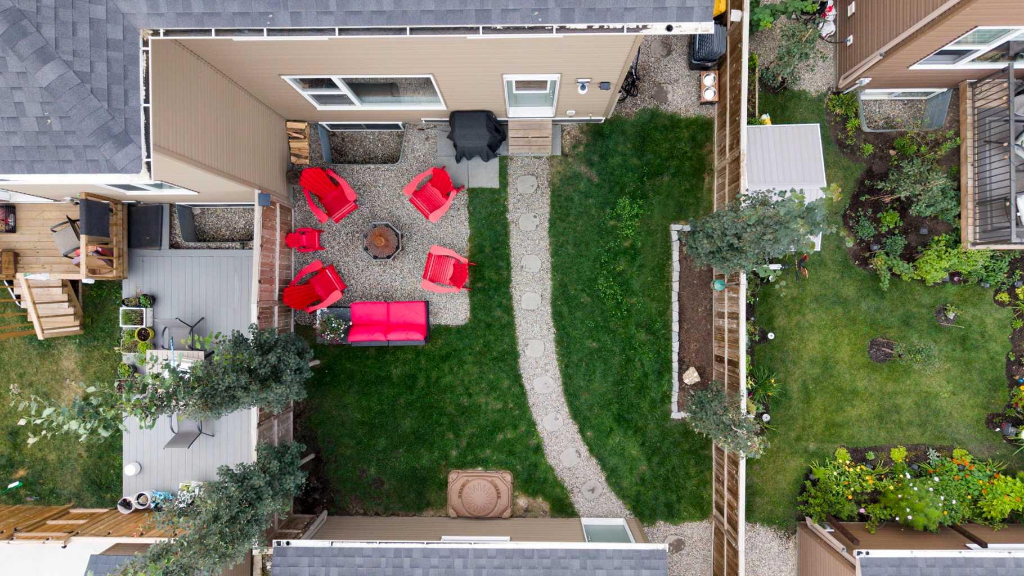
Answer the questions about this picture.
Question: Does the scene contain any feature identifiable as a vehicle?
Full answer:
No, there isn't any vehicle down there.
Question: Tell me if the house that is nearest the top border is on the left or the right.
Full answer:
The house that is nearest the top border appears in the right half of the scene.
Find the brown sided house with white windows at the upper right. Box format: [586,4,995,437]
[839,0,1024,102]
